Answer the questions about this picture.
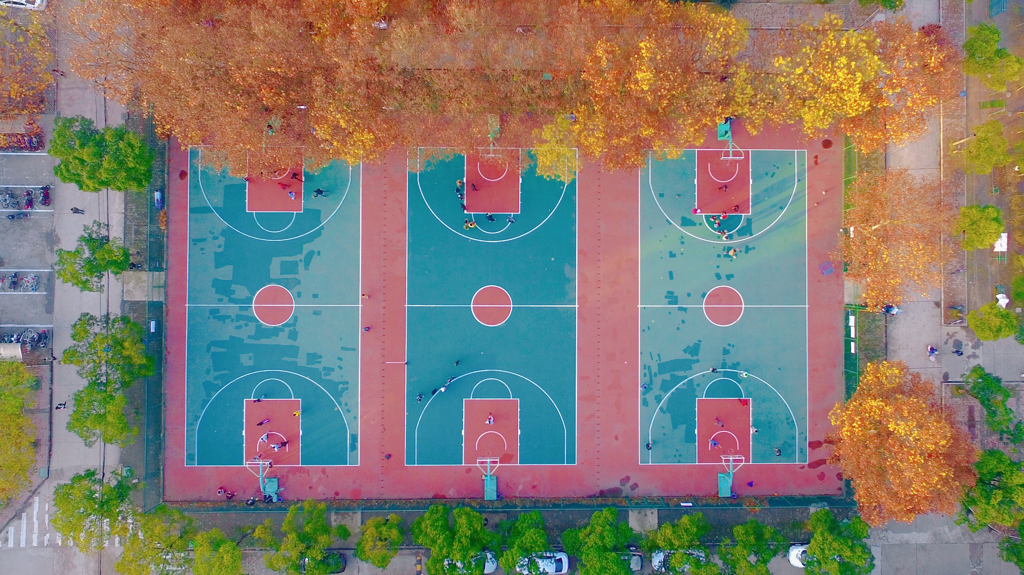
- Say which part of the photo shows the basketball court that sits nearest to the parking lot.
left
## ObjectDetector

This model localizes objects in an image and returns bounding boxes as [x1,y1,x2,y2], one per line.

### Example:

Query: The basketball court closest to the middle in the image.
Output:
[404,147,579,465]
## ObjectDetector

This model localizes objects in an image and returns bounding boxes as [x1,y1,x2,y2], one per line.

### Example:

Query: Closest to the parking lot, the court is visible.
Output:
[185,145,364,466]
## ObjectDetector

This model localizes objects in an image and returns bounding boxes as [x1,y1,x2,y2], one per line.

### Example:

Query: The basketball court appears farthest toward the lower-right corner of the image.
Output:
[639,149,809,465]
